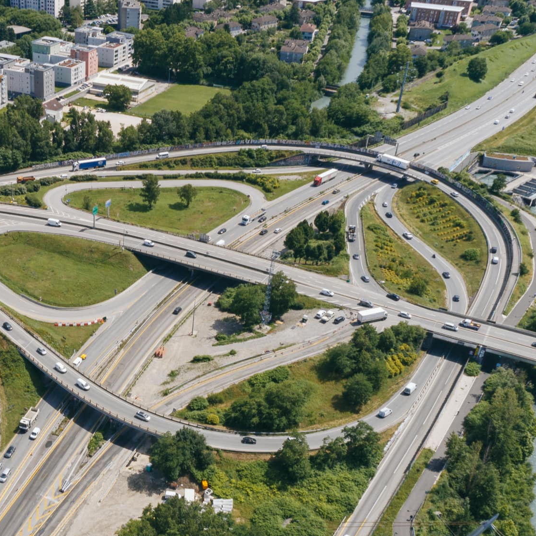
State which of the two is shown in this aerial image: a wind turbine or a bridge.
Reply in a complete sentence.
Looking from above, you can make out a bridge.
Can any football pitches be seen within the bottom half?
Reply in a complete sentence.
No, the scene shows no football pitch within the bottom half.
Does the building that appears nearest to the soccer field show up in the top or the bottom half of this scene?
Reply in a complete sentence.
The top half of the photo is where the building that appears nearest to the soccer field is.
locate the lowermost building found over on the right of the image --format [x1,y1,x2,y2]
[481,154,534,173]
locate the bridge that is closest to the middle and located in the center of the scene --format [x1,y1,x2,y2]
[172,229,281,285]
